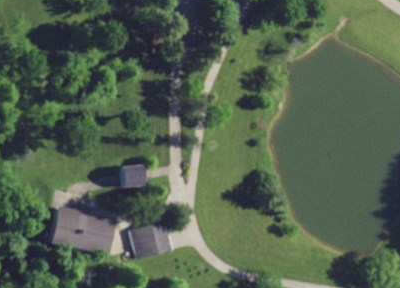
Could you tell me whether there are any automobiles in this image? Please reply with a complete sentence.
No, no automobile is visible in the view.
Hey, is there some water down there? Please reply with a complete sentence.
Yes, there's water in this view.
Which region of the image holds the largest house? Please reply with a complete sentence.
The largest house sits in the bottom left section of the image.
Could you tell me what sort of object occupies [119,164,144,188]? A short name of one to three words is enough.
shed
